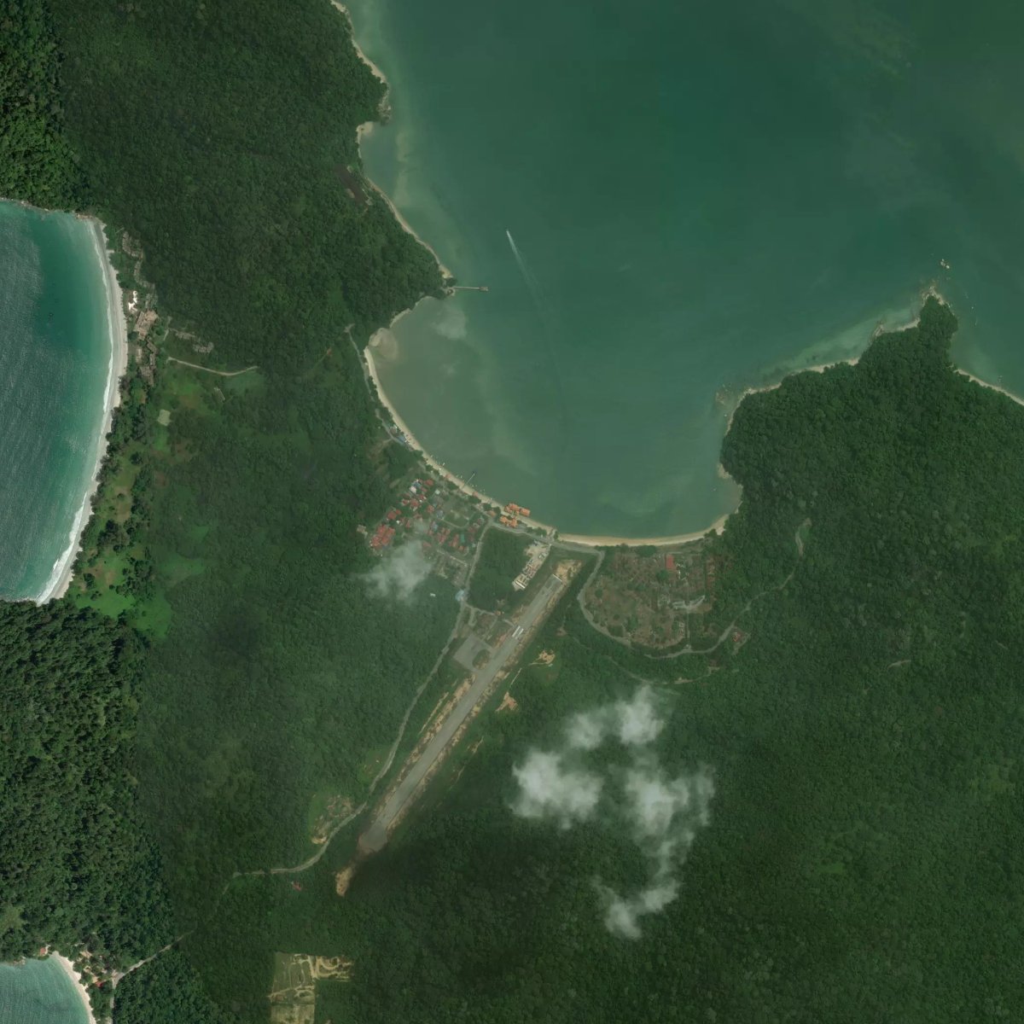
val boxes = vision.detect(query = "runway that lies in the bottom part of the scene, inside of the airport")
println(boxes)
[375,575,562,833]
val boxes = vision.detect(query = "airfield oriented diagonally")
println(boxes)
[361,575,562,851]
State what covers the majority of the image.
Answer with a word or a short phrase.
trees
